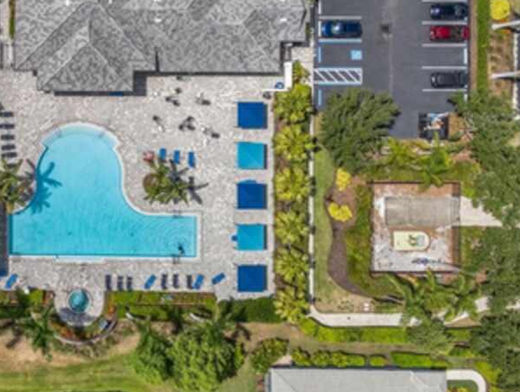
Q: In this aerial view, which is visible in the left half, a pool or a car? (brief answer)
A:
pool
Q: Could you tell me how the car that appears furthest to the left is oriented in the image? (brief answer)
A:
horizontally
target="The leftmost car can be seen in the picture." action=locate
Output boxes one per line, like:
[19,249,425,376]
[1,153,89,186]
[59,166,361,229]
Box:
[319,20,361,39]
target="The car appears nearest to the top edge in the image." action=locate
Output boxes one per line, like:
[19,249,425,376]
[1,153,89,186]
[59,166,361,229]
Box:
[427,2,465,21]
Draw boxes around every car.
[428,24,467,43]
[427,2,465,21]
[319,20,361,39]
[428,70,465,89]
